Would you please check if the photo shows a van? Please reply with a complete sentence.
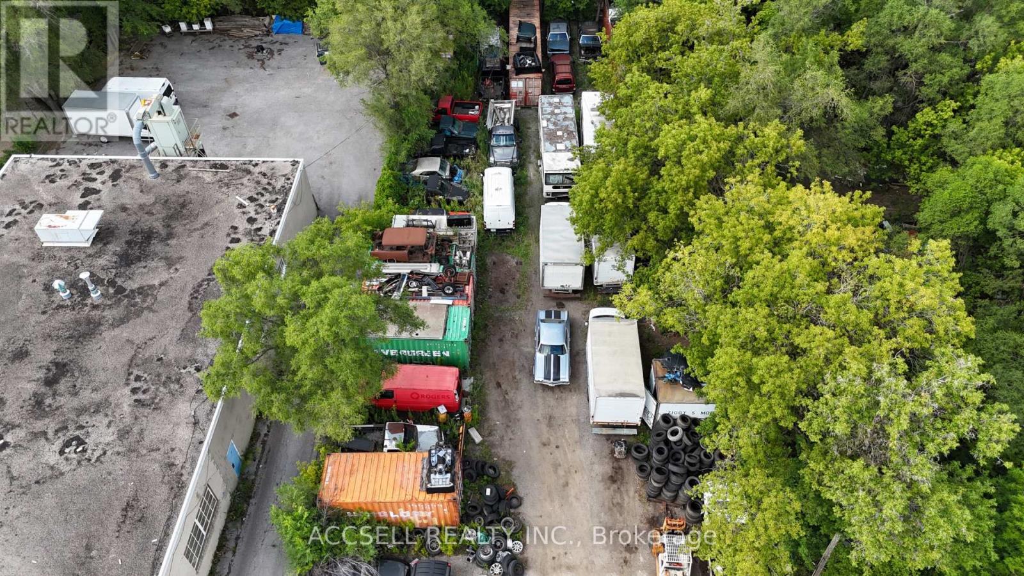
Yes, I can see a van in this picture.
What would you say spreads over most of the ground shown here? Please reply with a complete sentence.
What you mostly see from above here is trees.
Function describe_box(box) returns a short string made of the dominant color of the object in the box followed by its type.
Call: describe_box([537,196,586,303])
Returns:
white truck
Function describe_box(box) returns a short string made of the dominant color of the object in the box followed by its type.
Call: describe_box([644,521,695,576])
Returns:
white work vehicle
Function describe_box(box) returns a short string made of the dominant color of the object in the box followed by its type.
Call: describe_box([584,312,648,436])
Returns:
white van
